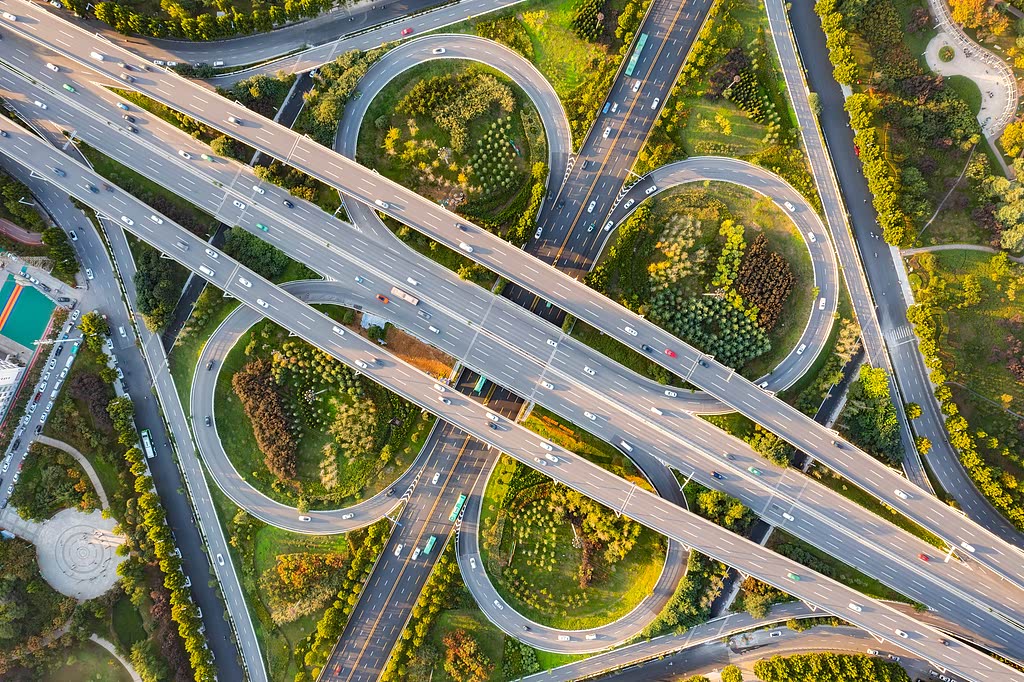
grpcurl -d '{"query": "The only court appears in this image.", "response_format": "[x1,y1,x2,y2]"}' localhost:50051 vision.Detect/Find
[0,266,57,350]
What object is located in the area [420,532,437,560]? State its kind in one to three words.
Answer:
vehicle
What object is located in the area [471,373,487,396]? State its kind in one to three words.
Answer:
vehicle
